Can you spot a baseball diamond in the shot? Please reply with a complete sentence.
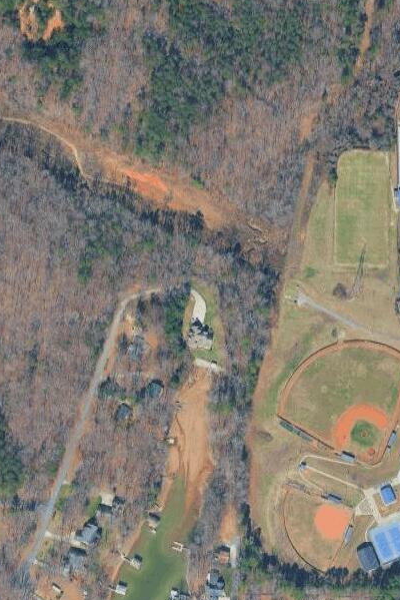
Yes, you can see a baseball diamond in this photo.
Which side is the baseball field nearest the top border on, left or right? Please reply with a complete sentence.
The baseball field nearest the top border sits on the right side.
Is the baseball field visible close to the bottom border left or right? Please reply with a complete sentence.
The baseball field visible close to the bottom border appears in the right half of the scene.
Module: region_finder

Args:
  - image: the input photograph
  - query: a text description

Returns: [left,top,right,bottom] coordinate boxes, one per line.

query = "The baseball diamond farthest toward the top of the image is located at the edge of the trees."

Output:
[278,339,400,467]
